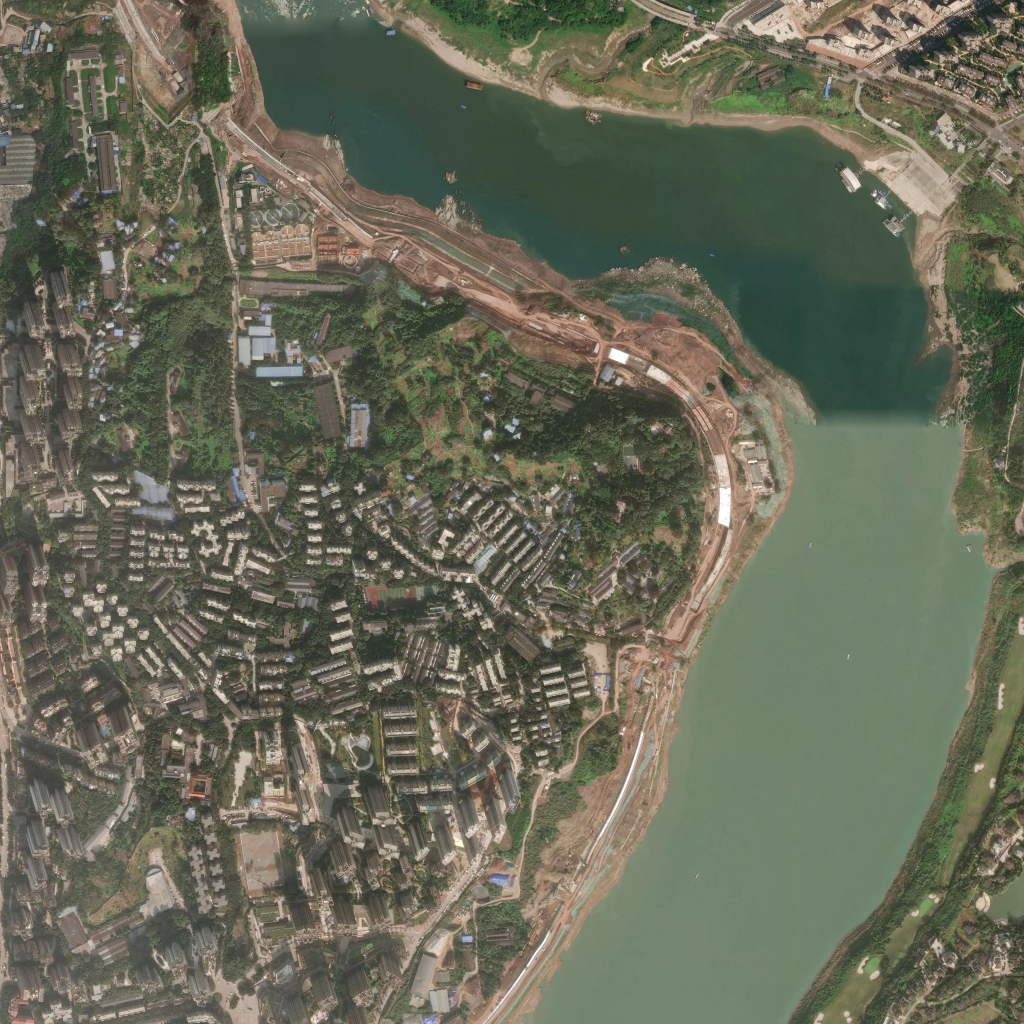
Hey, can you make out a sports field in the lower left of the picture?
Yes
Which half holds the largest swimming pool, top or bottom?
bottom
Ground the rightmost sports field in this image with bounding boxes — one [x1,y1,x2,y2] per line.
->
[366,585,438,608]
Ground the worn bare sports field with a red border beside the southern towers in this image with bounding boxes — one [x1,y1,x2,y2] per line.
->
[235,827,295,902]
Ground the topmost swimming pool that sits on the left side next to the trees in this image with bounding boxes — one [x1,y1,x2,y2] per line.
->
[349,735,373,768]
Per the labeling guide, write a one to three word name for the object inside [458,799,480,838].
building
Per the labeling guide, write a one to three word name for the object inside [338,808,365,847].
building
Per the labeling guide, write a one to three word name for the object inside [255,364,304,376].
shed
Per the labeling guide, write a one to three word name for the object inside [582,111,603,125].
ship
